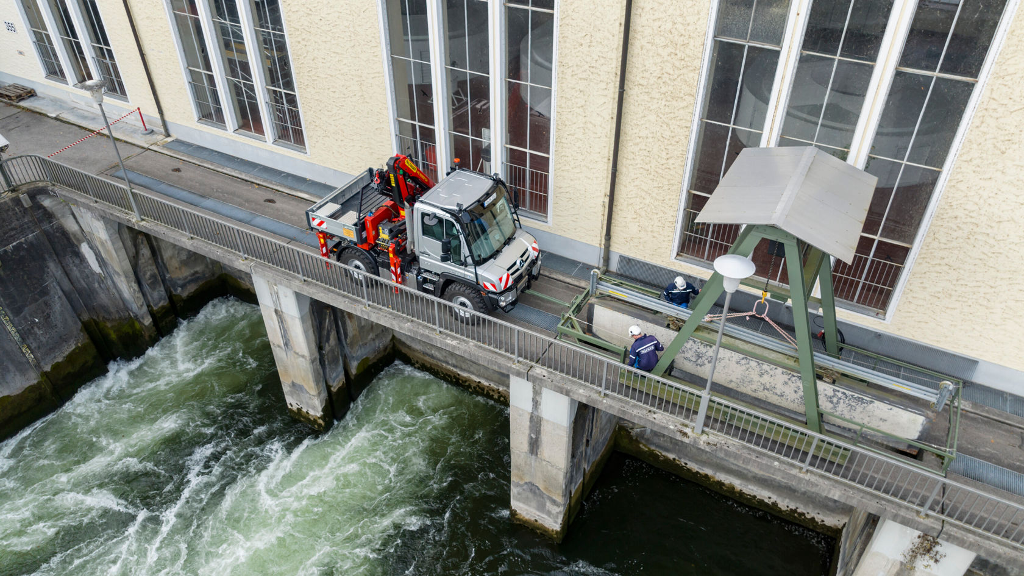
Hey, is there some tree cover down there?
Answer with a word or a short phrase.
No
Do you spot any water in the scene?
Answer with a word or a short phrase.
Yes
